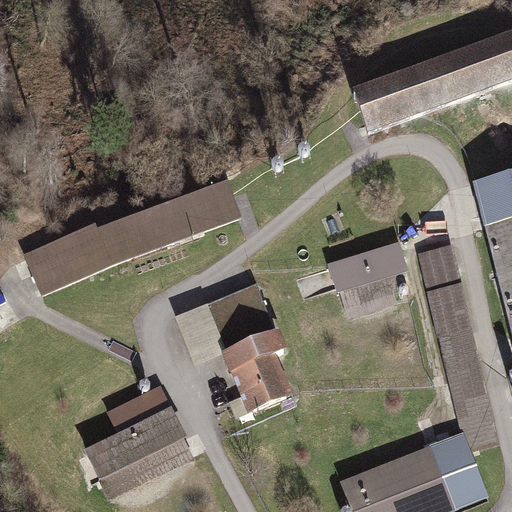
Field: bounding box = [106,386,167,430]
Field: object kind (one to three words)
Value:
shed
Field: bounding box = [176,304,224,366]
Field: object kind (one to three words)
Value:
building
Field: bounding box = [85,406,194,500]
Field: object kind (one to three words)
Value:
house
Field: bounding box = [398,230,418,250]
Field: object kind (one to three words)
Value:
work vehicle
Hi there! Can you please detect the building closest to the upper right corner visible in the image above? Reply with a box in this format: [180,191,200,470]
[353,29,512,137]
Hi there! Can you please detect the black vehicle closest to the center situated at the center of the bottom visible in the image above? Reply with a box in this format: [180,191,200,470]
[208,382,226,410]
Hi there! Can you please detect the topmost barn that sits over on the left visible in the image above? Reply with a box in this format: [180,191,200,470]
[24,180,242,298]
